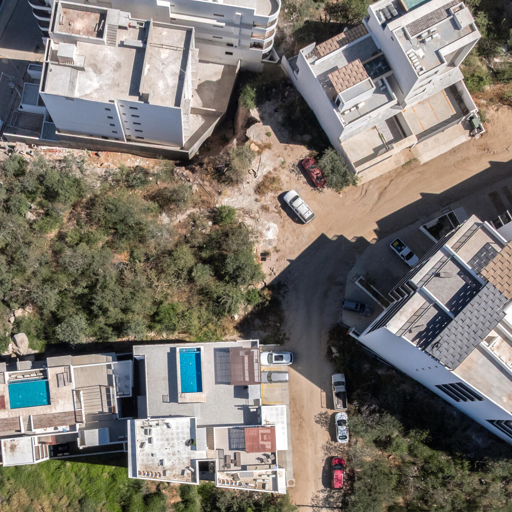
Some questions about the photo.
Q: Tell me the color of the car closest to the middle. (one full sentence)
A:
The color of the car closest to the middle is white.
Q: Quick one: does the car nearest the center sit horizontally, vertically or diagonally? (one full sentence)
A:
The car nearest the center runs diagonally in the image.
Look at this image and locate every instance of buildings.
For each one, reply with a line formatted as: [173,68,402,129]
[280,0,480,177]
[361,215,512,442]
[0,353,138,466]
[3,0,238,162]
[128,339,287,494]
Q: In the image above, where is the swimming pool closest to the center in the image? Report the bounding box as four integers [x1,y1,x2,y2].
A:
[179,347,202,393]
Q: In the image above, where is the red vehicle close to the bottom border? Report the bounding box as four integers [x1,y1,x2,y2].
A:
[330,457,346,489]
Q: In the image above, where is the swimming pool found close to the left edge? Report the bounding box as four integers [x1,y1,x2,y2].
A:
[6,376,54,411]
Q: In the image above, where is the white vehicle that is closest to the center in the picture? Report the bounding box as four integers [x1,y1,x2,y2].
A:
[285,189,316,224]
